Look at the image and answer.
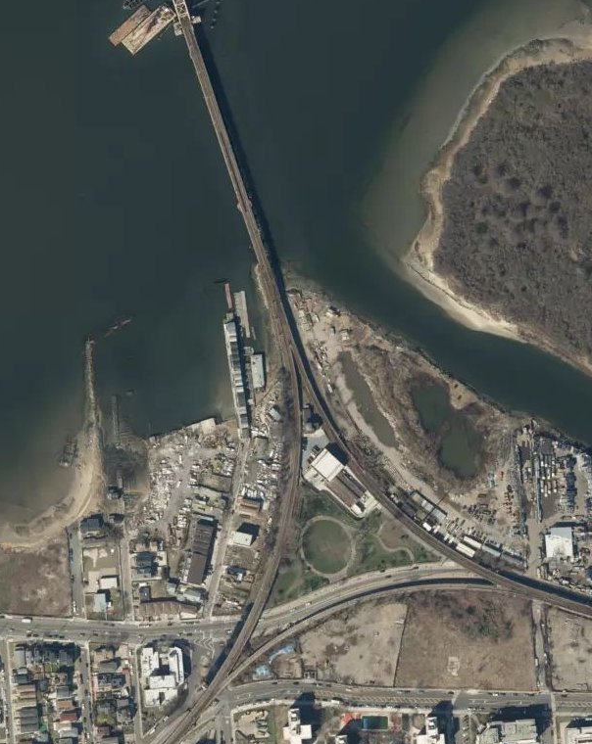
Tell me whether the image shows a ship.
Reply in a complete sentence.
Yes, looking at the shot, I can spot a ship.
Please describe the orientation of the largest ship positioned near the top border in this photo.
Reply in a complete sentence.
In this picture, the largest ship positioned near the top border lies on a diagonal.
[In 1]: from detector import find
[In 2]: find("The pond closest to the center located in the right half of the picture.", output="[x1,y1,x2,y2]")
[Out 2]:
[340,351,398,448]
